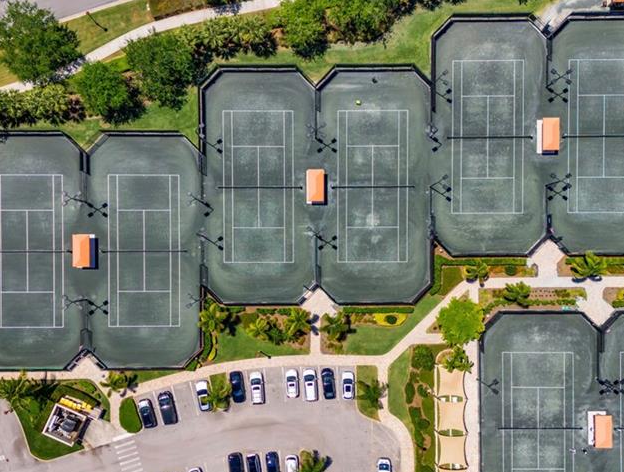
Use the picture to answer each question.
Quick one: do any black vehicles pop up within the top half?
No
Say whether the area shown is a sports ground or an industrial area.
sports ground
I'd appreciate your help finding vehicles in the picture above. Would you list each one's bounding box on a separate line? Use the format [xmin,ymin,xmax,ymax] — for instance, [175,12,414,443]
[229,452,244,472]
[230,371,247,402]
[286,456,298,472]
[159,392,177,424]
[302,368,318,402]
[249,372,264,403]
[321,367,335,398]
[341,370,355,399]
[285,368,299,398]
[139,397,157,429]
[374,455,392,472]
[266,451,281,472]
[195,379,211,411]
[246,452,261,472]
